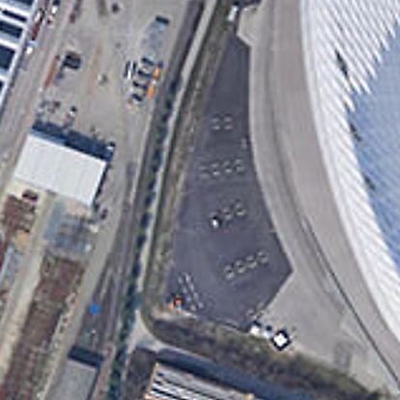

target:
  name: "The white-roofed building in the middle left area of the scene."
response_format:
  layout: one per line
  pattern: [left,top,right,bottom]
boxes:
[15,135,109,206]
